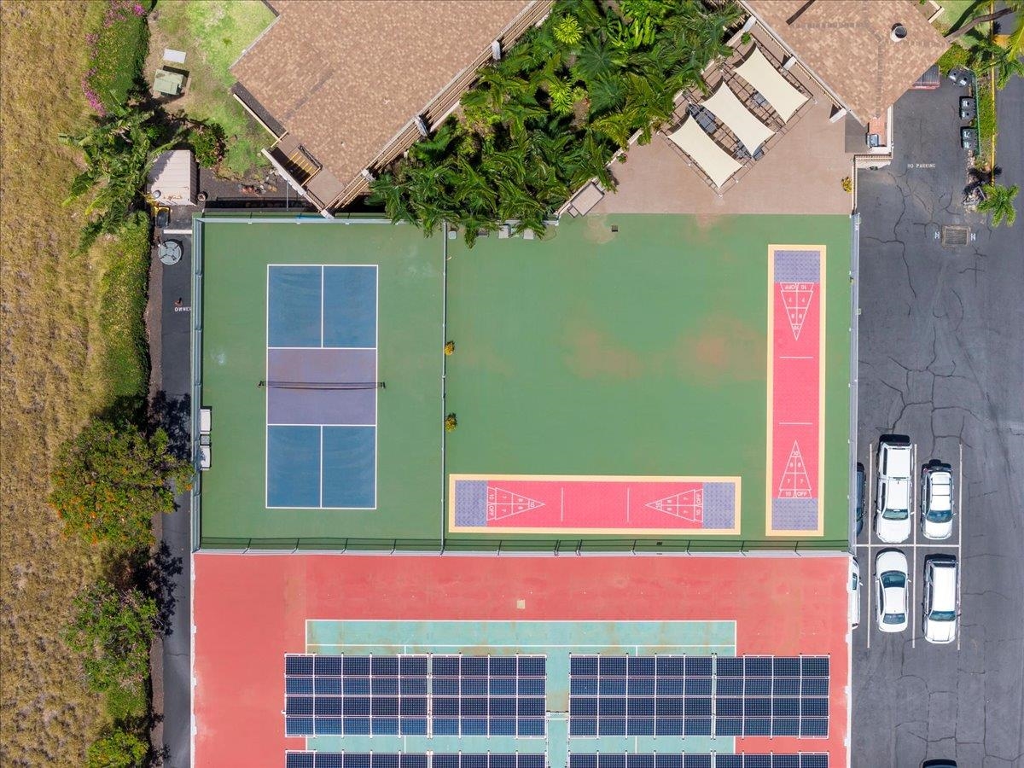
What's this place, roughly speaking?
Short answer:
sports ground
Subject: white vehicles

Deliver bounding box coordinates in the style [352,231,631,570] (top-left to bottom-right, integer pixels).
[919,462,959,540]
[872,548,913,632]
[920,558,963,642]
[873,441,917,543]
[850,556,865,629]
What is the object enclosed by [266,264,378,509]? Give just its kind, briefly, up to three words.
sports court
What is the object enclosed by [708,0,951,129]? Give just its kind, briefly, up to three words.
building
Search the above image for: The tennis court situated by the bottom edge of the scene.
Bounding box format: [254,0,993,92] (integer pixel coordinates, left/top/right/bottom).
[193,556,851,768]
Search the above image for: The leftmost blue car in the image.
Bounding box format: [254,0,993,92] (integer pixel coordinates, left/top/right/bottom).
[857,464,870,538]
